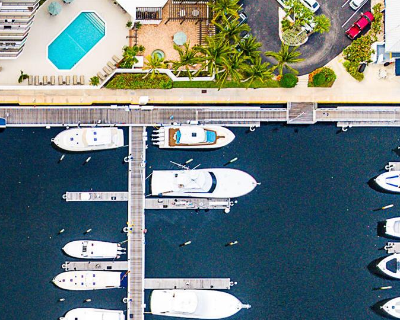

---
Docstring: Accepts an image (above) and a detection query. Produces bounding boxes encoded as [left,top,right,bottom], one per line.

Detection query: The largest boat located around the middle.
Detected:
[145,154,262,206]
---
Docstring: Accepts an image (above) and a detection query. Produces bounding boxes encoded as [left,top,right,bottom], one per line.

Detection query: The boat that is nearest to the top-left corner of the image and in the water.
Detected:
[50,127,129,149]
